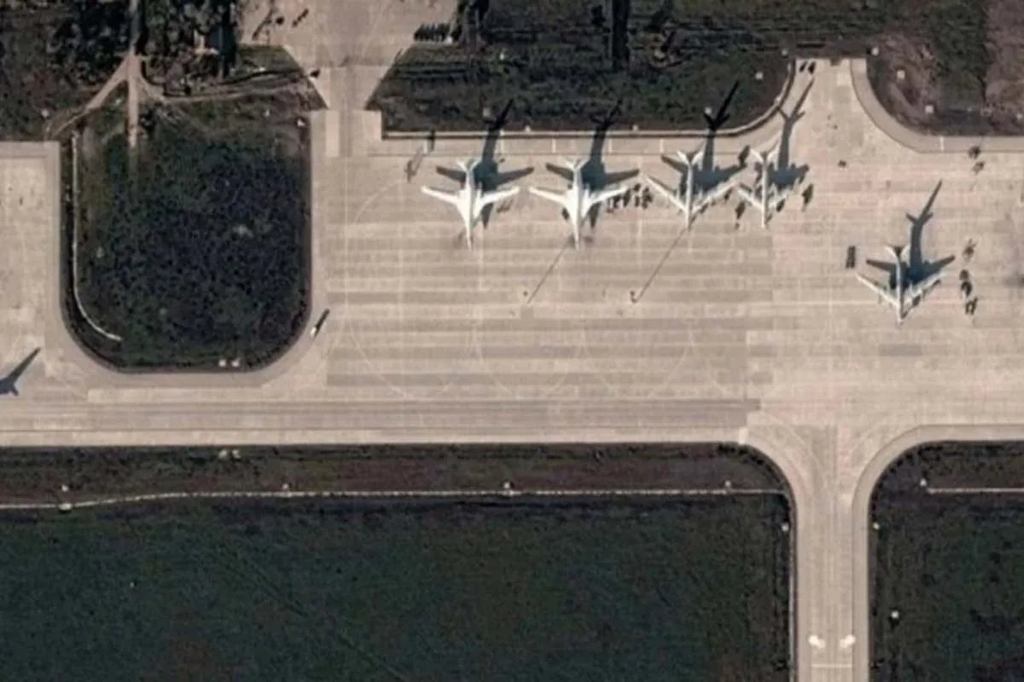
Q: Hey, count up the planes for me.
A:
5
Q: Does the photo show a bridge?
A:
No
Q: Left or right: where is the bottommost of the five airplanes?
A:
right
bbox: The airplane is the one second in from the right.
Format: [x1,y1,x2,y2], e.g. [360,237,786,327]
[738,149,790,227]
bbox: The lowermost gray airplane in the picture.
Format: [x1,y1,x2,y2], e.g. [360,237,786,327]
[857,243,942,324]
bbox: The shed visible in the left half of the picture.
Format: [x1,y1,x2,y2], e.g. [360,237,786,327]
[207,27,232,60]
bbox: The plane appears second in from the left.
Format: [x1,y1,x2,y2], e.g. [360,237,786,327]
[531,158,626,248]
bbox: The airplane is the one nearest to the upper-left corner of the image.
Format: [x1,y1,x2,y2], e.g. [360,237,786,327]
[423,157,518,249]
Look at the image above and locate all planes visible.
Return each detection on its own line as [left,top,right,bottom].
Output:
[646,150,731,230]
[531,158,626,248]
[738,149,790,227]
[857,243,942,324]
[423,157,518,249]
